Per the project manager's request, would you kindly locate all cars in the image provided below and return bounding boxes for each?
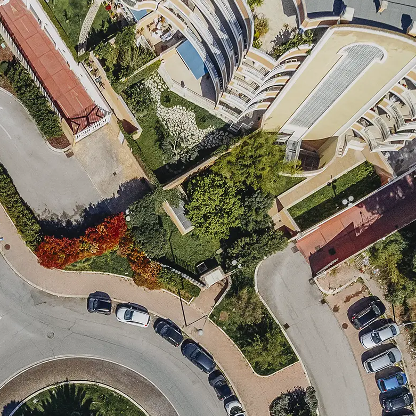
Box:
[357,321,400,350]
[113,305,152,328]
[151,319,187,349]
[87,296,111,313]
[347,301,387,329]
[360,346,402,374]
[224,399,245,416]
[179,341,217,374]
[373,370,409,392]
[378,391,414,411]
[208,367,235,401]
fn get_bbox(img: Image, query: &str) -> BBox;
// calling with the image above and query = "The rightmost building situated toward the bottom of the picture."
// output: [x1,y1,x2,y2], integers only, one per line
[197,262,228,290]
